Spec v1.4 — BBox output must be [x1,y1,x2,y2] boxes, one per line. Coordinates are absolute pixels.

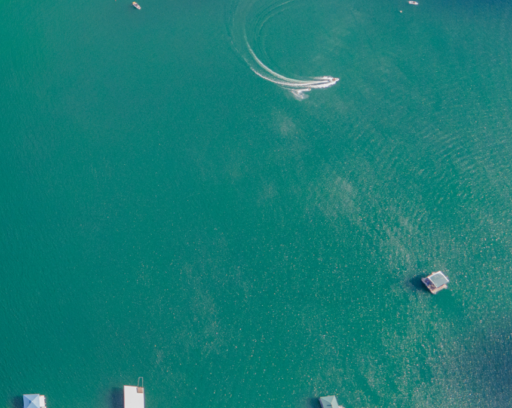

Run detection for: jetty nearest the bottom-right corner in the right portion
[419,272,449,296]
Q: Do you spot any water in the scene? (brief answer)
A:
Yes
